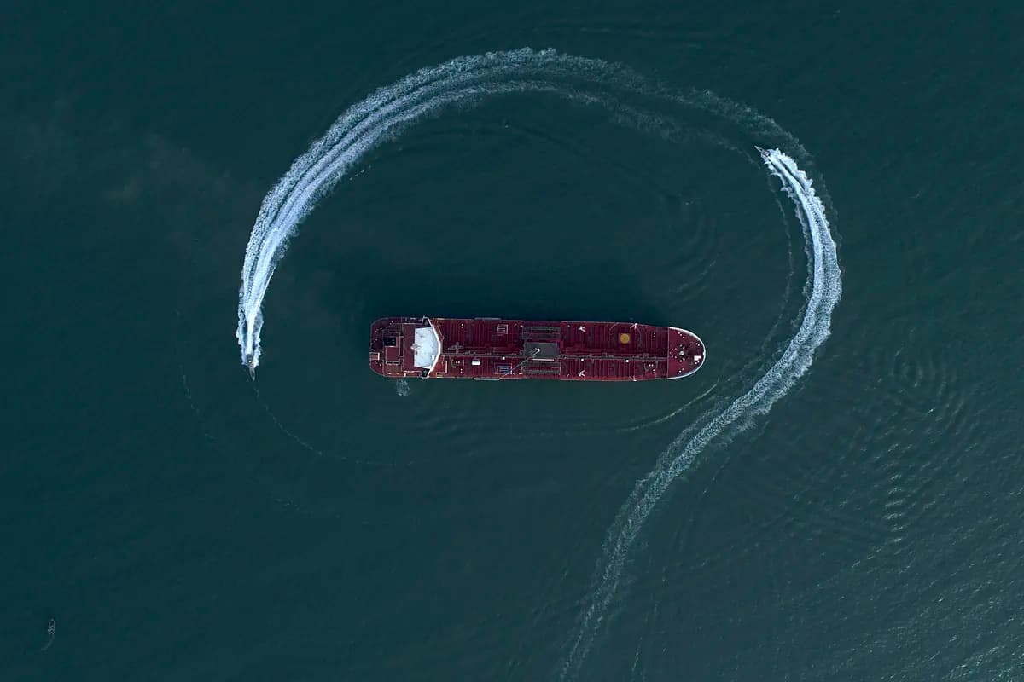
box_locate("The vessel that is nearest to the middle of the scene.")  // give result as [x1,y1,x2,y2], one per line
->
[369,316,705,381]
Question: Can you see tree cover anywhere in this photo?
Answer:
No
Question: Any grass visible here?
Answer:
No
